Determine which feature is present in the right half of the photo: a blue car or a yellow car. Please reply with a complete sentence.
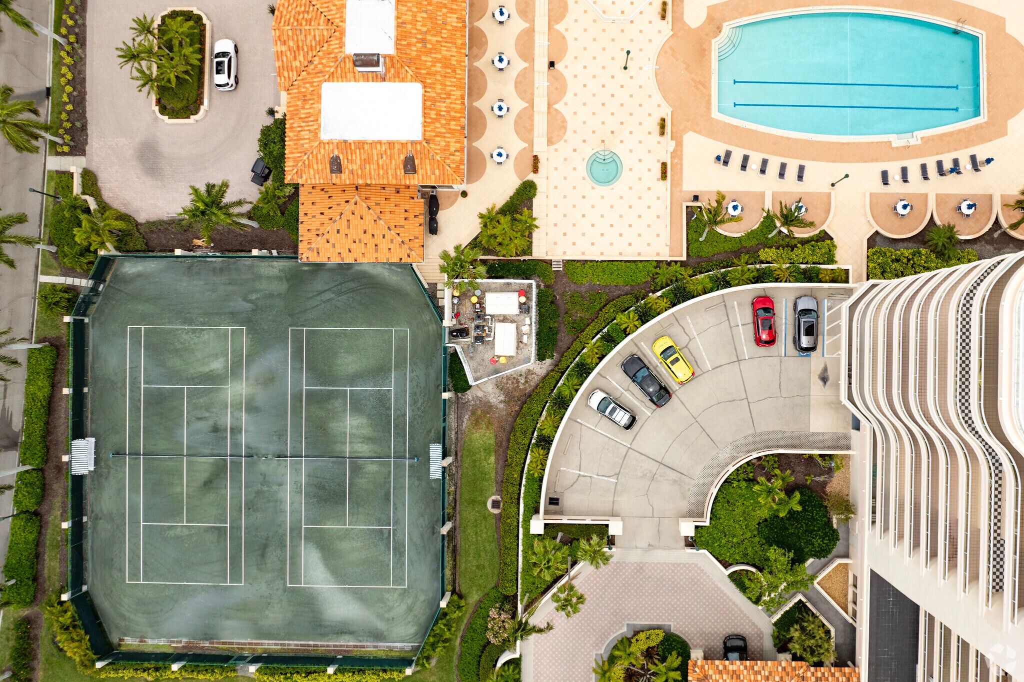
The one visible in the right half of the photo is a yellow car.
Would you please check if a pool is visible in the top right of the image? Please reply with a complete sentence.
Yes, in the top right of the image there is a pool.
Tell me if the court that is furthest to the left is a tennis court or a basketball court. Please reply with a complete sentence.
The court that is furthest to the left is a tennis court.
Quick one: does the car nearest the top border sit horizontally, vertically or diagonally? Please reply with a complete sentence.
The car nearest the top border runs vertically in the image.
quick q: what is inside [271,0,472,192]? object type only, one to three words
building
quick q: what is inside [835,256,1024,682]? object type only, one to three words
building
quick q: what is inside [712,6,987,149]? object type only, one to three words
swimming pool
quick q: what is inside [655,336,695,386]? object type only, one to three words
car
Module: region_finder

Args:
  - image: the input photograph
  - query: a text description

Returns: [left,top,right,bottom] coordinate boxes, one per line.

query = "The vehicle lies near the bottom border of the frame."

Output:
[723,634,749,661]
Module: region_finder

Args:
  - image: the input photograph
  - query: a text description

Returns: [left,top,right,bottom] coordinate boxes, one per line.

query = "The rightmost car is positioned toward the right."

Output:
[792,295,821,353]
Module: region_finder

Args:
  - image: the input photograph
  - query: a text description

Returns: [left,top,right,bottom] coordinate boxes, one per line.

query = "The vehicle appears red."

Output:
[750,296,777,346]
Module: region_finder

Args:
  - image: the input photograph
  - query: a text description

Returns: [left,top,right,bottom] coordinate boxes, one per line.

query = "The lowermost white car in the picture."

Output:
[589,389,638,433]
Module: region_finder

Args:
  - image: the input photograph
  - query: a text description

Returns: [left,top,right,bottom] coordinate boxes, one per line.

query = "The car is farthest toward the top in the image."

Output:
[214,39,242,92]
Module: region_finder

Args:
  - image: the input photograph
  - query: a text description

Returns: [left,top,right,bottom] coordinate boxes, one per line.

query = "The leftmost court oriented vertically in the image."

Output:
[87,259,266,651]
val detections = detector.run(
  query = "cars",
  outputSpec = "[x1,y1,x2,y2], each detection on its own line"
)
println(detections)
[792,295,821,353]
[723,634,749,661]
[589,389,638,433]
[750,296,777,346]
[623,352,671,409]
[214,39,242,92]
[655,336,695,386]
